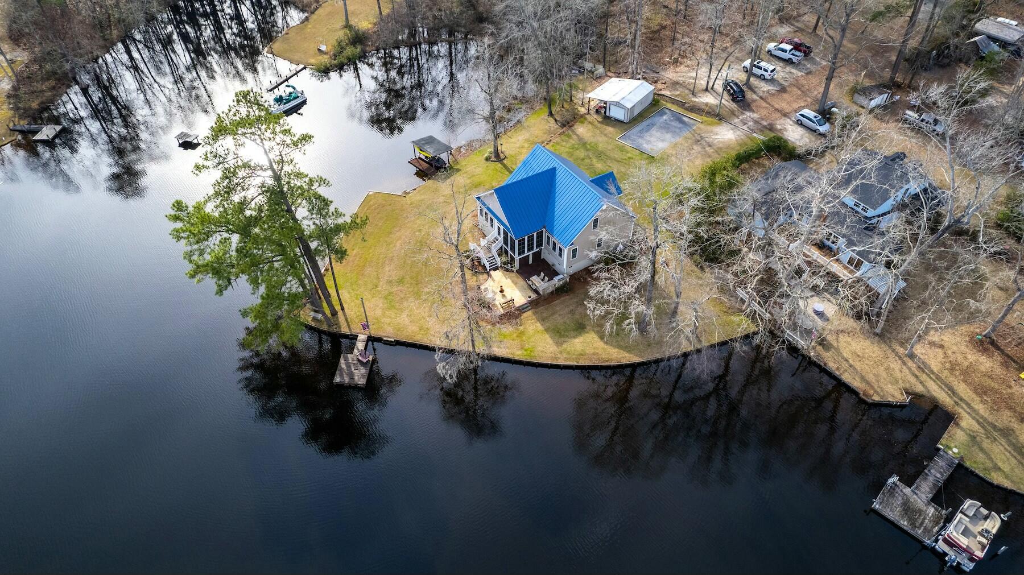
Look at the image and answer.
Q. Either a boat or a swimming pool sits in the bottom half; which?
boat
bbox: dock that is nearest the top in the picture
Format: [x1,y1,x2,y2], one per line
[263,64,307,94]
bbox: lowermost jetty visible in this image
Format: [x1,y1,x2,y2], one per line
[870,444,963,542]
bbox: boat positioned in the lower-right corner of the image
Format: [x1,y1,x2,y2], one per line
[932,495,1003,575]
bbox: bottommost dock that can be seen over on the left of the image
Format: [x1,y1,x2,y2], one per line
[333,335,373,387]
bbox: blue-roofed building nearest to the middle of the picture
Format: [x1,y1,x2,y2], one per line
[472,143,637,292]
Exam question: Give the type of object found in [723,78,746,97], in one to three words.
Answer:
car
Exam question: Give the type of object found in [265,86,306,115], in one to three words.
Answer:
boat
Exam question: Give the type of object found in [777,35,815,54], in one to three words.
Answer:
vehicle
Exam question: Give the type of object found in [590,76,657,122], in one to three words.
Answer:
building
